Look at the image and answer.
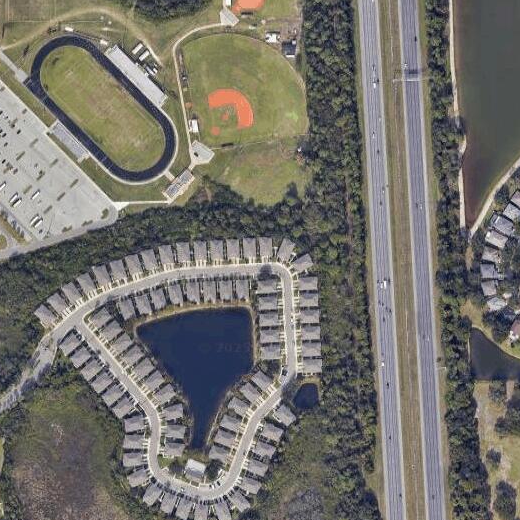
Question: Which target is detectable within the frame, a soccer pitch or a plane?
soccer pitch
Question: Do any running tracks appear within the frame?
Yes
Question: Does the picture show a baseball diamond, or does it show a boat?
baseball diamond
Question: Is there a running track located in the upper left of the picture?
Yes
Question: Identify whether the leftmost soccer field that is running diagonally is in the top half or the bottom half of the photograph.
top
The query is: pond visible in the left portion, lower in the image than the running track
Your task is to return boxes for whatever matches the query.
[136,306,253,451]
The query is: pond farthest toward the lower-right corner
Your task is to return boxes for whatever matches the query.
[470,326,520,380]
